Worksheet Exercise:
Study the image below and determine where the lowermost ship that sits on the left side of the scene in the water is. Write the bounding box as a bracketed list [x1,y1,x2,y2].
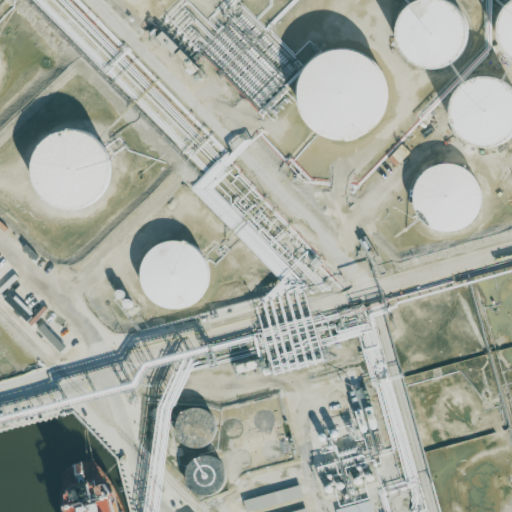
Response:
[60,460,124,512]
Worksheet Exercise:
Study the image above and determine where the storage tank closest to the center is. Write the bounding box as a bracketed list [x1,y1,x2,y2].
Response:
[140,240,212,311]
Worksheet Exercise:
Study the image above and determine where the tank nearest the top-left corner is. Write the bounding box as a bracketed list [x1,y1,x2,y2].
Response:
[30,129,114,212]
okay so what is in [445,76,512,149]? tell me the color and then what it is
white storage tank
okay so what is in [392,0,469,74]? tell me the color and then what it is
white storage tank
